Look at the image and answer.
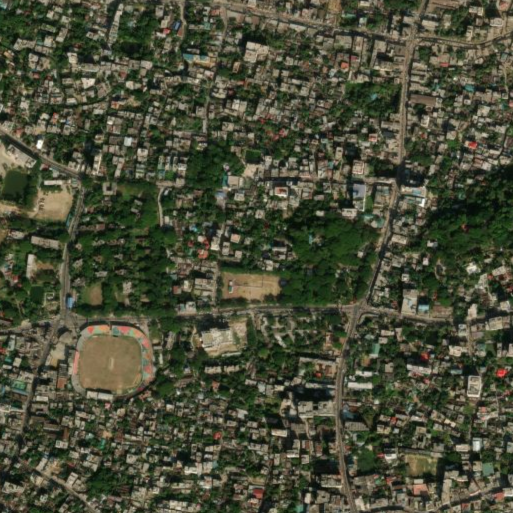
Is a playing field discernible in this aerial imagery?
Yes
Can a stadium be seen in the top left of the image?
No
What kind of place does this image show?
residential area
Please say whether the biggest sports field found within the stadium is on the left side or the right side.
left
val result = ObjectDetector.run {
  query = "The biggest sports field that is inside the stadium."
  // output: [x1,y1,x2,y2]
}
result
[78,336,141,396]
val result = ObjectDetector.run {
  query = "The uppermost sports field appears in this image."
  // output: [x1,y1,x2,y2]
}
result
[37,189,73,221]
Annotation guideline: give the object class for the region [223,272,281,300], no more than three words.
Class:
sports field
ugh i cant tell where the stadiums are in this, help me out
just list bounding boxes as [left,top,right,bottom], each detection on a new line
[72,325,154,401]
